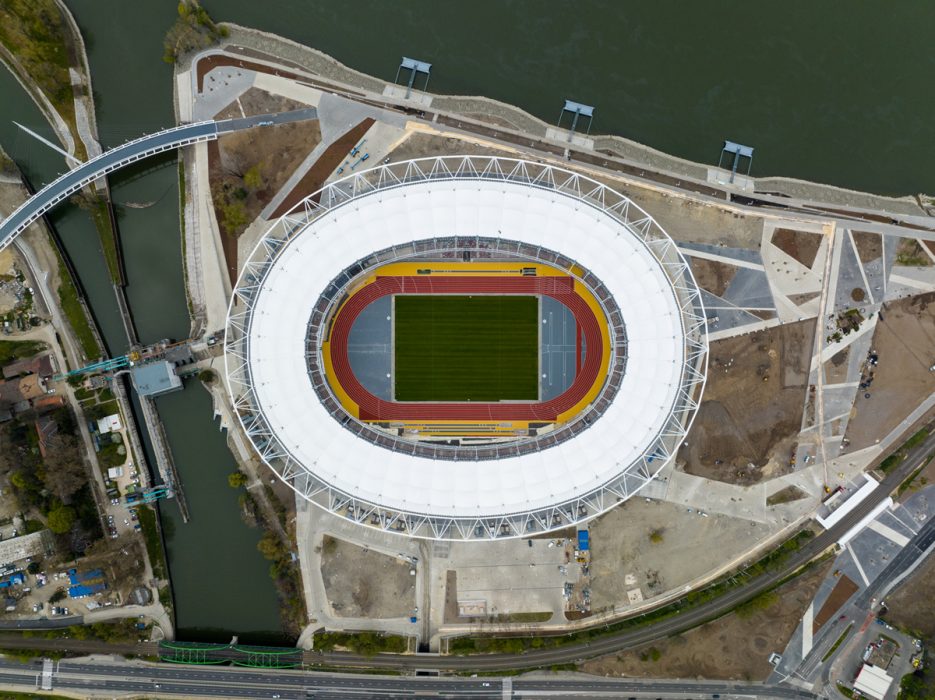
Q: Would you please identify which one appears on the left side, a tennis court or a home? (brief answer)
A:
home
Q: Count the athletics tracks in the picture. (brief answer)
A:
1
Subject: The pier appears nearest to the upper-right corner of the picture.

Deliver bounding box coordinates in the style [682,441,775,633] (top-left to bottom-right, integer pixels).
[719,141,754,179]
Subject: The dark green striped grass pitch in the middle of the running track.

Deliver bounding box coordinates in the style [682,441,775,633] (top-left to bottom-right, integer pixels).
[392,294,542,404]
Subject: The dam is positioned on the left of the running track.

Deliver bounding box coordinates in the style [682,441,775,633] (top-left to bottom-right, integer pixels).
[164,347,196,367]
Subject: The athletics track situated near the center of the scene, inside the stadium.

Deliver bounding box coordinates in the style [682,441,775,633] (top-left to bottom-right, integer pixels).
[320,256,614,445]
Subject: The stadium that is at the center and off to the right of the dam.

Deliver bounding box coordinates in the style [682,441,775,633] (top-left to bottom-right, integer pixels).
[225,155,709,540]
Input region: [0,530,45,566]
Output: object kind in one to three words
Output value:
shed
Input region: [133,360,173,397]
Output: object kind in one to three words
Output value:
building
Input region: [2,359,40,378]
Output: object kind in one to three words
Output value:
house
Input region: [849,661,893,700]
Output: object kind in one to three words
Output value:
building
